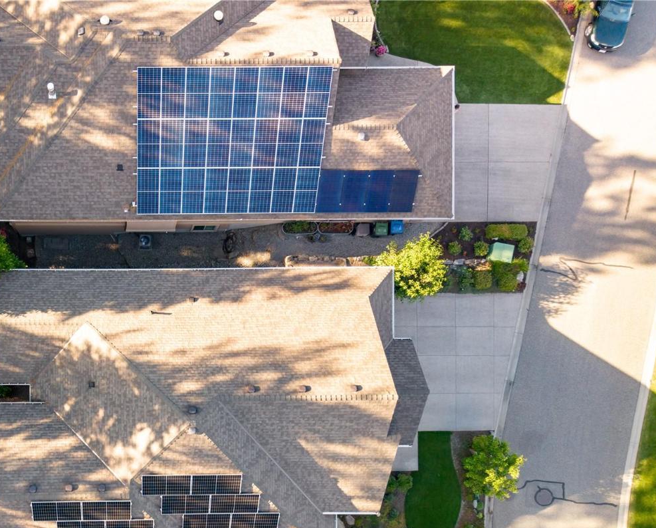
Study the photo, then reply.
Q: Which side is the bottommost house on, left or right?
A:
left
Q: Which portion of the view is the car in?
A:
top right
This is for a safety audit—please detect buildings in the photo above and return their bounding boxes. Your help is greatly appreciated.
[0,0,456,234]
[0,265,428,528]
